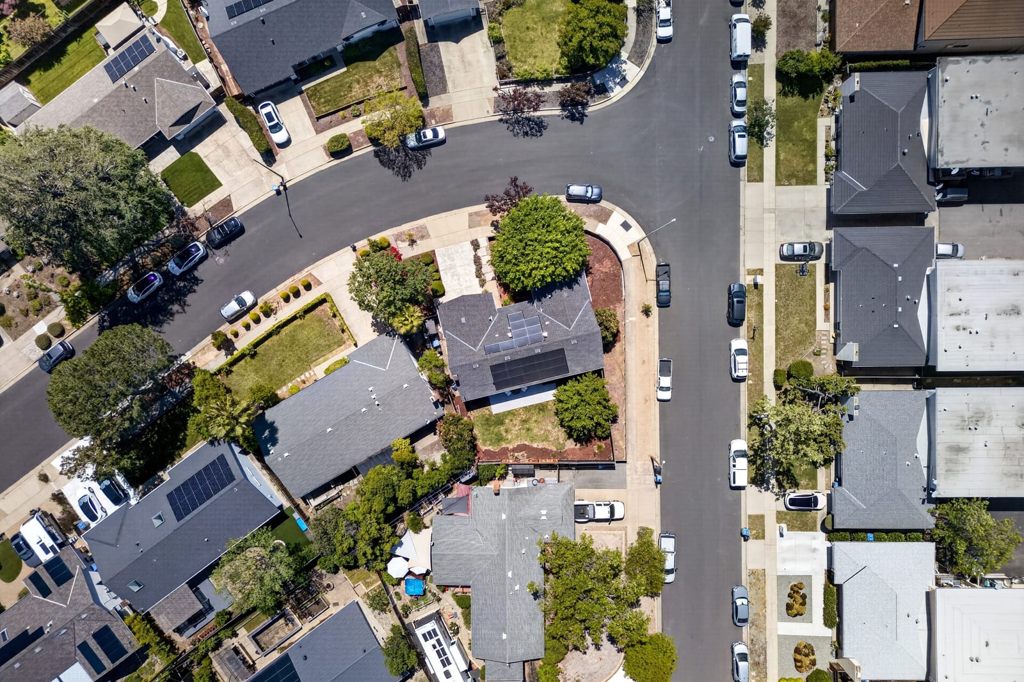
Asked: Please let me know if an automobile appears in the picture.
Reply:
Yes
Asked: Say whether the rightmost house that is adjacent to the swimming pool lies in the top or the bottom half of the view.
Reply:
bottom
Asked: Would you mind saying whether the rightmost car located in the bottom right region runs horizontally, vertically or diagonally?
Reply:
horizontally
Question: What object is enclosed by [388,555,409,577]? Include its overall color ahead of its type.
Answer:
white umbrella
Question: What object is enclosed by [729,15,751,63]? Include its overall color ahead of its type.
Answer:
white vehicle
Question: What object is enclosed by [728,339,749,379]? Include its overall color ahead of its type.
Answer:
white car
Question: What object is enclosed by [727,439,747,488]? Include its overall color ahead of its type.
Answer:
white vehicle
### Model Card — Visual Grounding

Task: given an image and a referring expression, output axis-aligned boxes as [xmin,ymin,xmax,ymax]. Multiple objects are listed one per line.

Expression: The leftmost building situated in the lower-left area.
[0,544,144,682]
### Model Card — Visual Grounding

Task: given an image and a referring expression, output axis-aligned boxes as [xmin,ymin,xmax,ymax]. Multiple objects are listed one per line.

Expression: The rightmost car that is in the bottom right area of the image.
[782,492,825,513]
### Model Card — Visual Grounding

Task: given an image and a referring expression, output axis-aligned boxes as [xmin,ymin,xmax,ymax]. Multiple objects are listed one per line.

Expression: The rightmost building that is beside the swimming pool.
[430,479,575,665]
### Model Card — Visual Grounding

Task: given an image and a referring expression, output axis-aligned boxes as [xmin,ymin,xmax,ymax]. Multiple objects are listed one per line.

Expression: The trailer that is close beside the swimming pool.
[411,599,469,682]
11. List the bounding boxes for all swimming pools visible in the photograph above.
[404,579,423,598]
